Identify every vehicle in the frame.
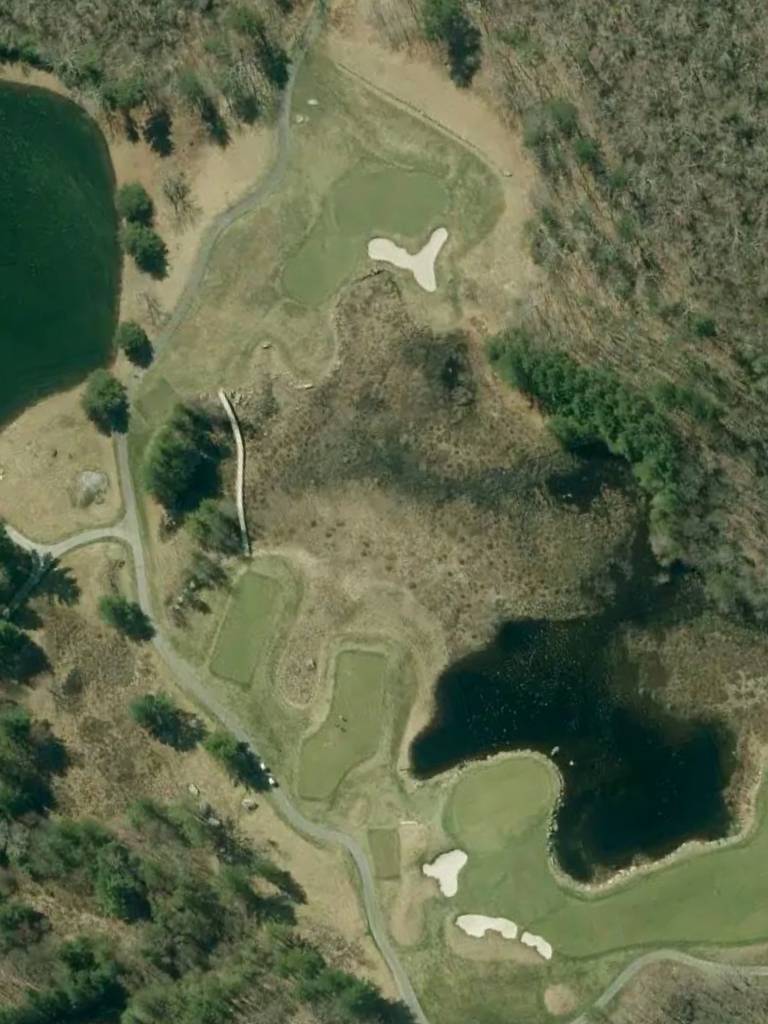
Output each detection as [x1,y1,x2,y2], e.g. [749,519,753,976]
[259,760,267,770]
[267,775,276,785]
